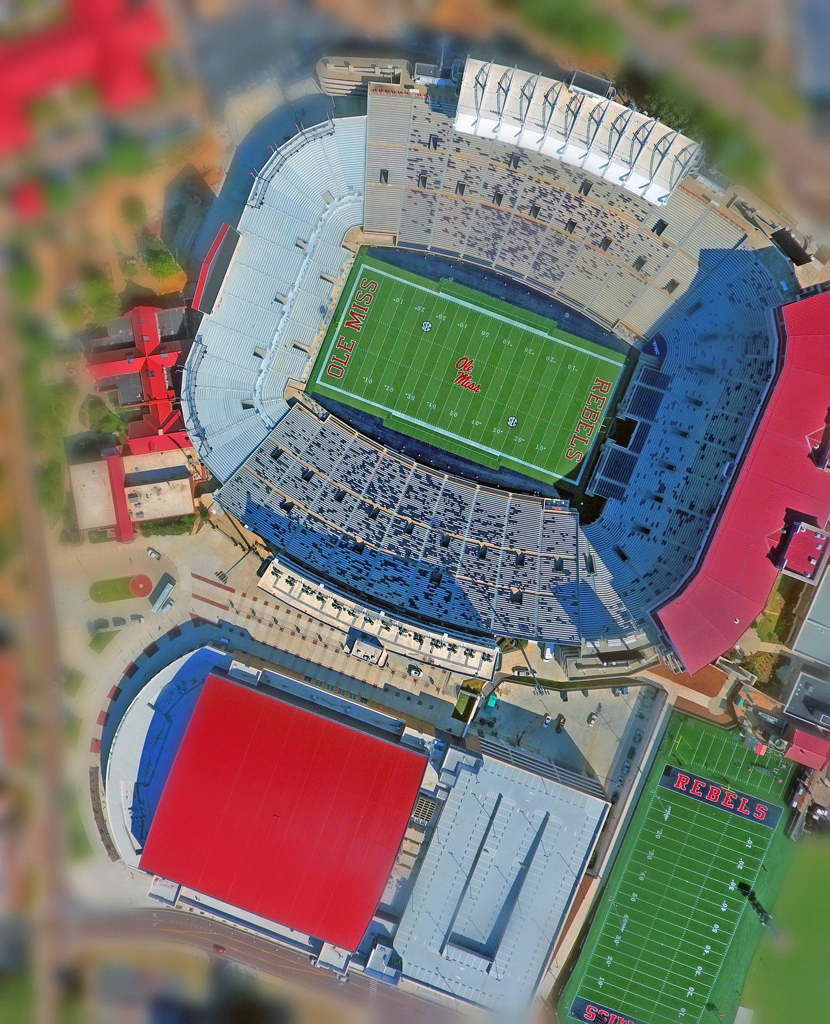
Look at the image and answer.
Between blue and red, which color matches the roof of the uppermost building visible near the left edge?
red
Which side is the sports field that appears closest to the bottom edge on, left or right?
right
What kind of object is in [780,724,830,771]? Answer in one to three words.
shed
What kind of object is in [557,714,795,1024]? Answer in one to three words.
sports field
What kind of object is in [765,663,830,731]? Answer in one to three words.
building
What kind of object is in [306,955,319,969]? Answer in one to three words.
vehicle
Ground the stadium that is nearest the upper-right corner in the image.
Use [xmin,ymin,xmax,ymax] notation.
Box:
[178,51,830,683]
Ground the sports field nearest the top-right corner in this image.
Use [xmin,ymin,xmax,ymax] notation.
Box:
[301,246,643,495]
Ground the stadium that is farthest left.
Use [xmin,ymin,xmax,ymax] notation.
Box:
[105,632,443,976]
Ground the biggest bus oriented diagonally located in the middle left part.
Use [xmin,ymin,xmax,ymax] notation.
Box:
[149,583,173,616]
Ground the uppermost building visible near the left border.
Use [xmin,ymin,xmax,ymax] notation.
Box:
[0,0,183,175]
